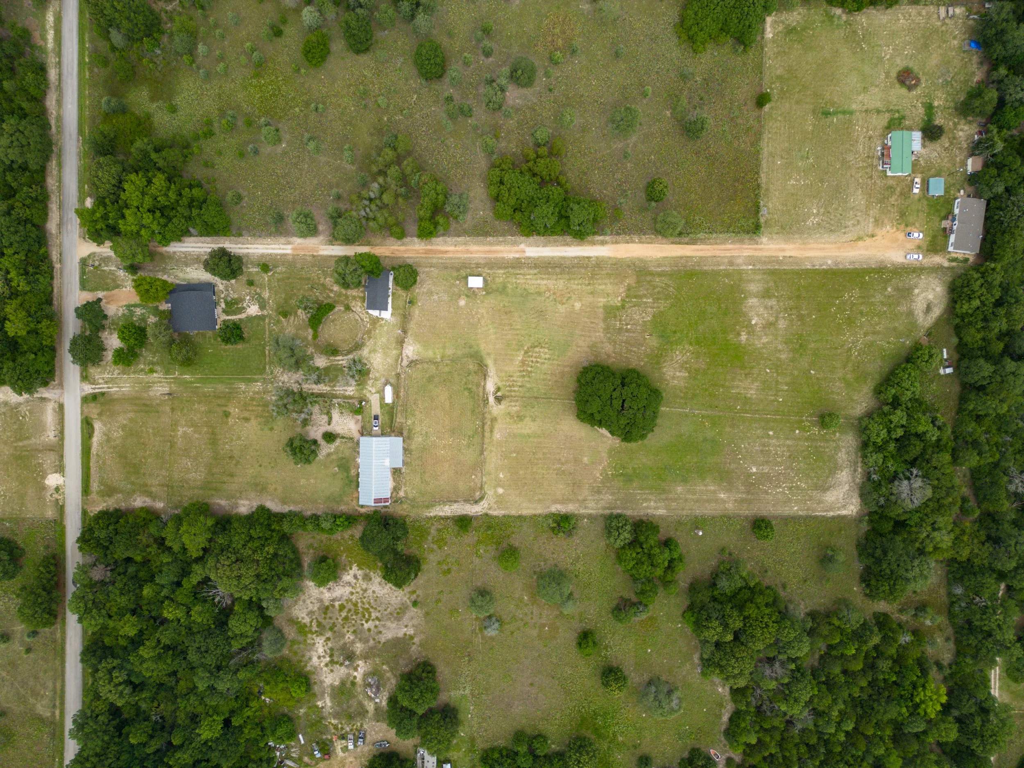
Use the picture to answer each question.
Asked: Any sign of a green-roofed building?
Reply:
Yes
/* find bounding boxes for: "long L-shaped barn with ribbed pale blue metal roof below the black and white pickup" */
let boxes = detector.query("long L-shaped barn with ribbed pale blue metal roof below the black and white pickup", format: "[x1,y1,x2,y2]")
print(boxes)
[360,436,403,505]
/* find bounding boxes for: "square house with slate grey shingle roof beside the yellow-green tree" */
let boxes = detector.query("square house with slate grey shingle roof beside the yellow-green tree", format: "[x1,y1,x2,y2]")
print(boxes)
[165,283,219,331]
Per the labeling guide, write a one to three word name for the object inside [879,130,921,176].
house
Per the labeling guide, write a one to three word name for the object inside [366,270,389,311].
house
